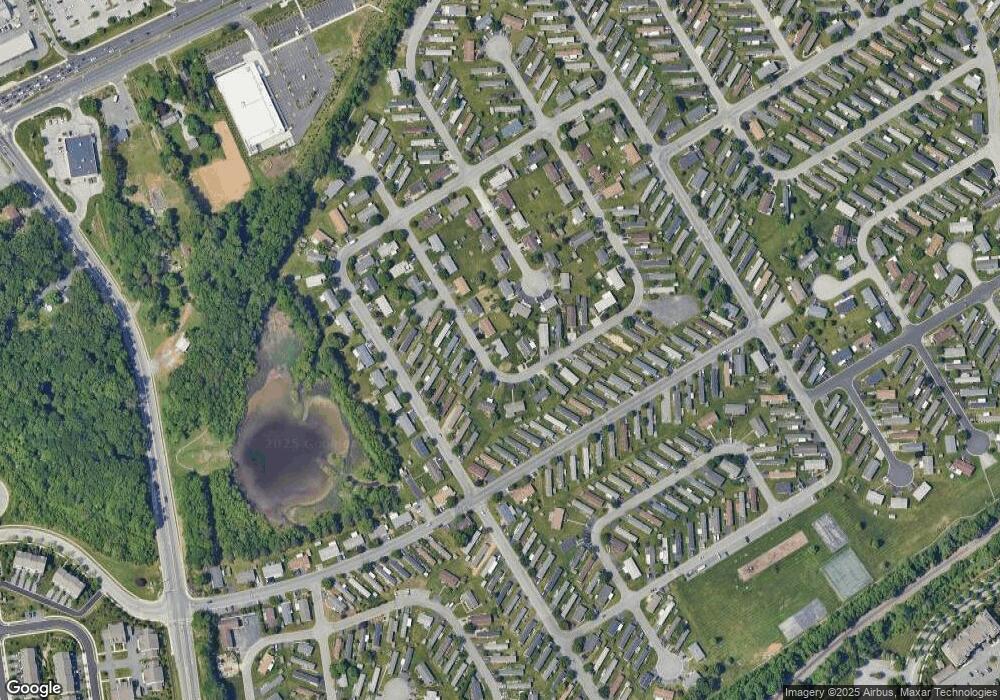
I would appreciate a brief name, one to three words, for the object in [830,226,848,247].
house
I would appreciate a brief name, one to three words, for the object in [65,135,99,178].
building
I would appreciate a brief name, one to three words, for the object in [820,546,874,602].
tennis court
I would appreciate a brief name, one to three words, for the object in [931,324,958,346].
house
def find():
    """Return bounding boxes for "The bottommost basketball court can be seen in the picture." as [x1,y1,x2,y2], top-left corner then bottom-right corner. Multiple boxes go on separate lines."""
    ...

[778,598,827,641]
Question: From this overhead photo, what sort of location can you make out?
residential area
